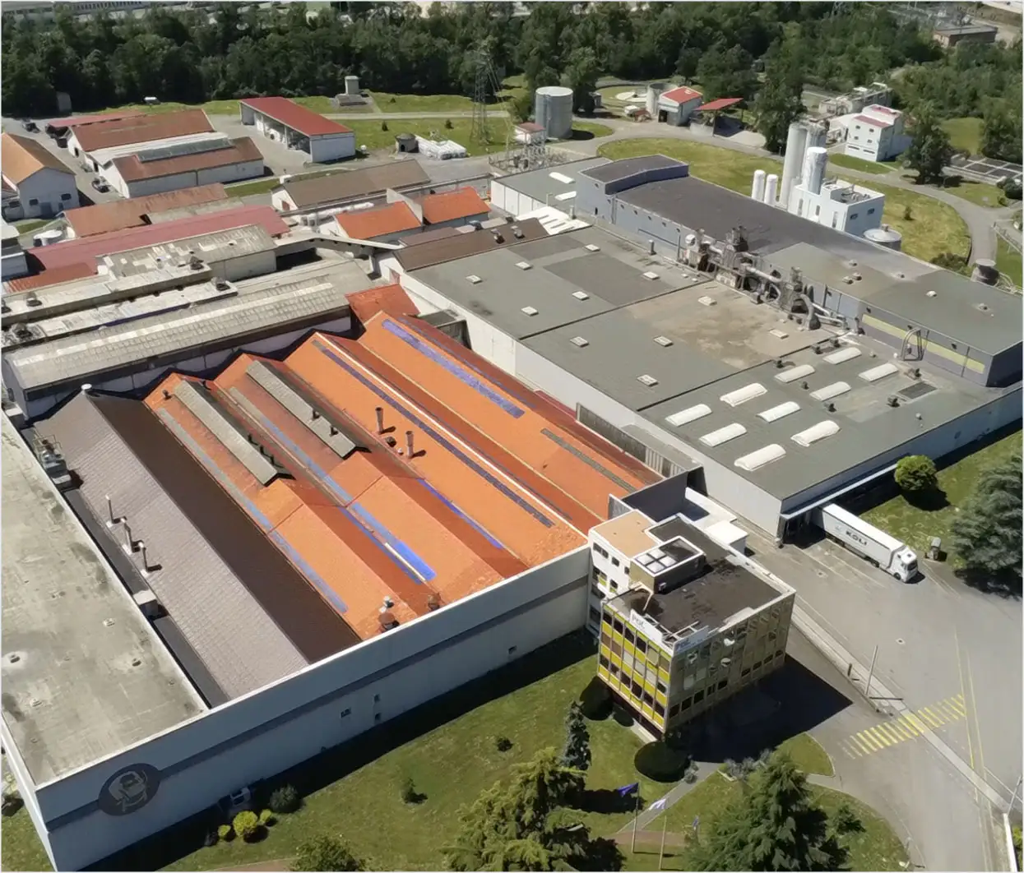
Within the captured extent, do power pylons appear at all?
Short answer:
Yes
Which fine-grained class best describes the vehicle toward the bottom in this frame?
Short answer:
truck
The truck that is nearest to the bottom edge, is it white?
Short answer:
Yes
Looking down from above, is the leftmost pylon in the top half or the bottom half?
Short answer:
top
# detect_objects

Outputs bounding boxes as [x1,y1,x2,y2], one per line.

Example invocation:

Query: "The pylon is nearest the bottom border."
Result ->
[459,46,493,145]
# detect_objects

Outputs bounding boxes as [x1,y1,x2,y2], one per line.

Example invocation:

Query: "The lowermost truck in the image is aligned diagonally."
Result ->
[814,503,921,581]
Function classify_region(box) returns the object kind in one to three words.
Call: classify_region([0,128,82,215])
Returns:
house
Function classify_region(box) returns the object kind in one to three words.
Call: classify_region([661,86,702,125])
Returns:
building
